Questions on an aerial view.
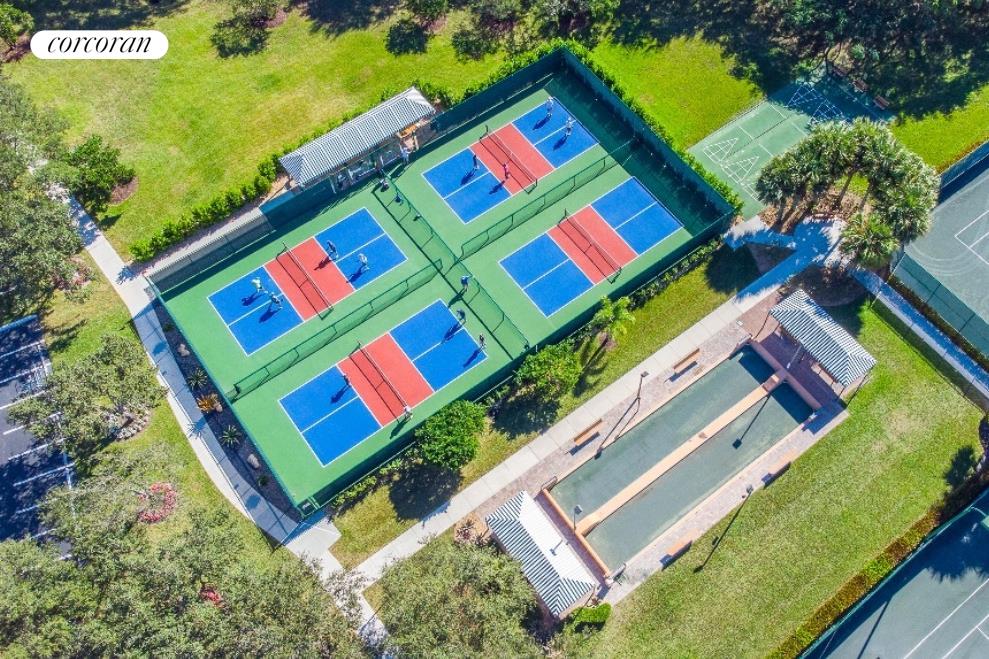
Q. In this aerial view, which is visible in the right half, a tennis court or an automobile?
tennis court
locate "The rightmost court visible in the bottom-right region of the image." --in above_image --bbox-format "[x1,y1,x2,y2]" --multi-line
[820,502,989,659]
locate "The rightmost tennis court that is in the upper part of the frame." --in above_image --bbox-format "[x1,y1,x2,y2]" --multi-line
[889,157,989,363]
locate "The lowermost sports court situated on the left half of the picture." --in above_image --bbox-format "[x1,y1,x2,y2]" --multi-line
[278,299,488,466]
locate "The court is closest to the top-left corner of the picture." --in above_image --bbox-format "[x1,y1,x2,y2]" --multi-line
[208,207,408,355]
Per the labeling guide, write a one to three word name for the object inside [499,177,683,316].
sports court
